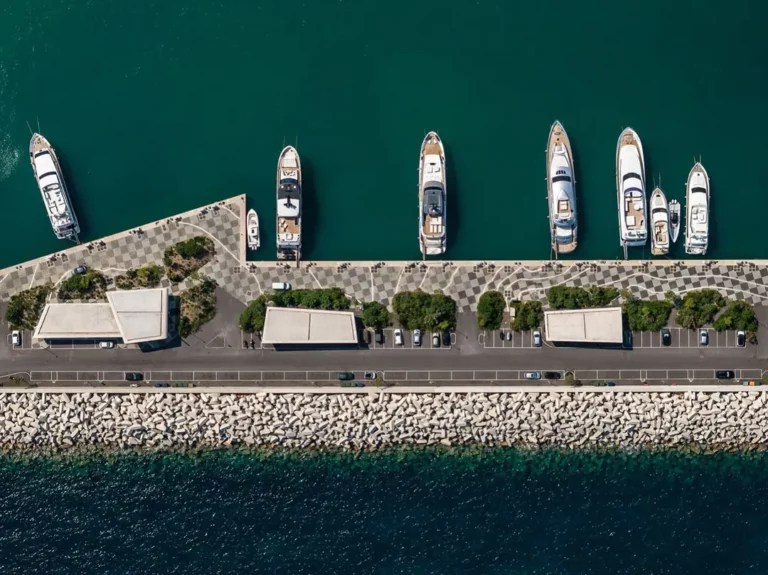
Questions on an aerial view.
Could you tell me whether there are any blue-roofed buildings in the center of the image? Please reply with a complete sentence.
No, looking in the center of the image, there is no blue-roofed building.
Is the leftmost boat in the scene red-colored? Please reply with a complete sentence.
No, the leftmost boat is white.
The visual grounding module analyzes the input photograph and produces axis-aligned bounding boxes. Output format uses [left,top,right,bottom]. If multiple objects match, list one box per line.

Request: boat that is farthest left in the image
[28,119,92,252]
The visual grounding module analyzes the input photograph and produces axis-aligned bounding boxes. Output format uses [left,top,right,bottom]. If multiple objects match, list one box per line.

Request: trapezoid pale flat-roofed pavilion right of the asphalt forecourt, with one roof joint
[262,307,358,343]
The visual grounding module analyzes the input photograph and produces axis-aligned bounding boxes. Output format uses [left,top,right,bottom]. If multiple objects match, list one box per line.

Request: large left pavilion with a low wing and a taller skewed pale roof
[33,288,169,344]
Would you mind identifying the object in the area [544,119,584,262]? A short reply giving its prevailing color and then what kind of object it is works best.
white boat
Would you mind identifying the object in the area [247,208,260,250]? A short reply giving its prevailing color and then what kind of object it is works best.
white boat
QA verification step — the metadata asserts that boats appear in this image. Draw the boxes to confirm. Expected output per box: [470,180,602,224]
[247,208,260,250]
[669,201,680,243]
[650,179,679,262]
[276,138,310,268]
[418,128,447,262]
[28,119,92,252]
[616,126,647,262]
[682,156,710,259]
[544,119,584,262]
